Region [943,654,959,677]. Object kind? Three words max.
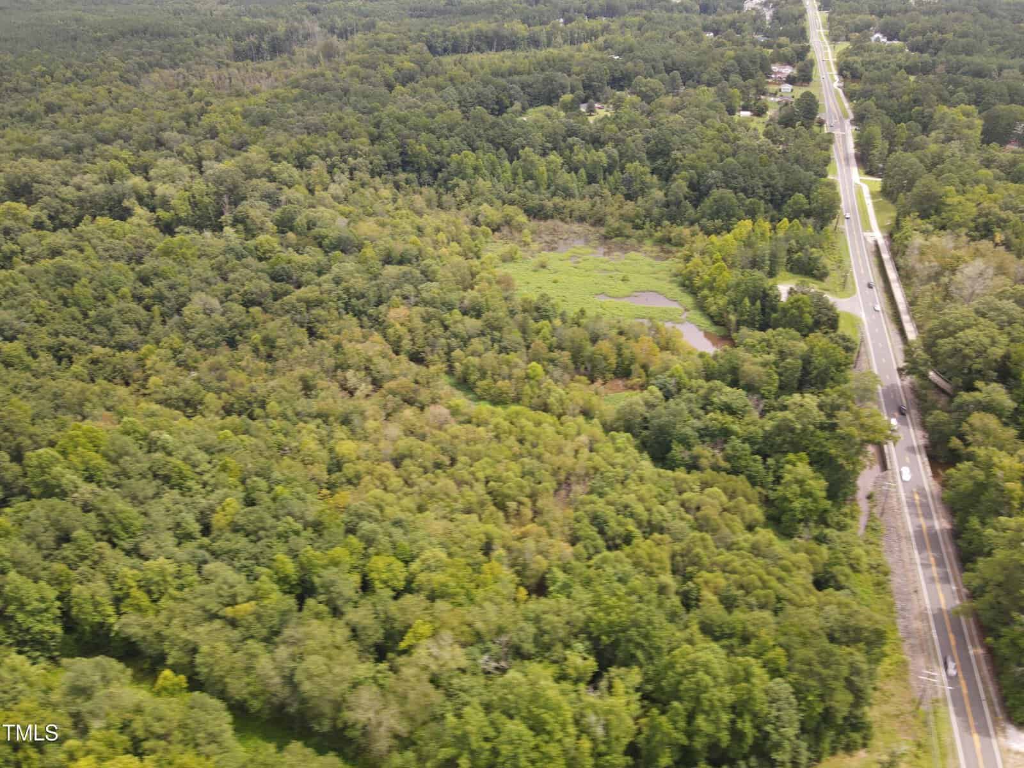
car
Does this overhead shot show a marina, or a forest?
forest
